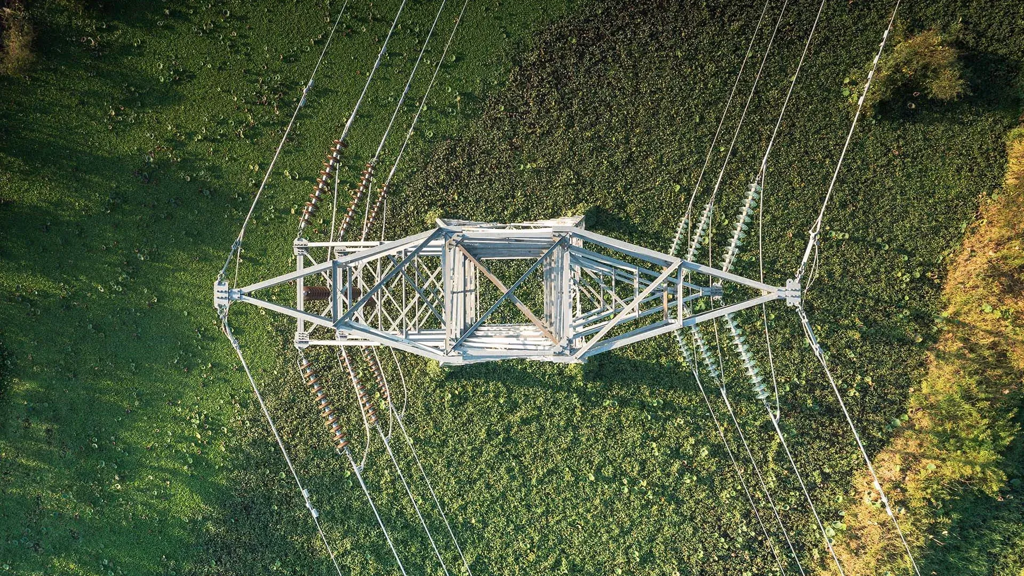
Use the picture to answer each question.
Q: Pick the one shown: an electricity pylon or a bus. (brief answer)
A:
electricity pylon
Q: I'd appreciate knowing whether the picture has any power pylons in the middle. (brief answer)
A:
Yes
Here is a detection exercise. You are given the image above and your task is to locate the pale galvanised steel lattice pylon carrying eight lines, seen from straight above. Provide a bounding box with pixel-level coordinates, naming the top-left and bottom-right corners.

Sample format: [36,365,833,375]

[219,213,801,365]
